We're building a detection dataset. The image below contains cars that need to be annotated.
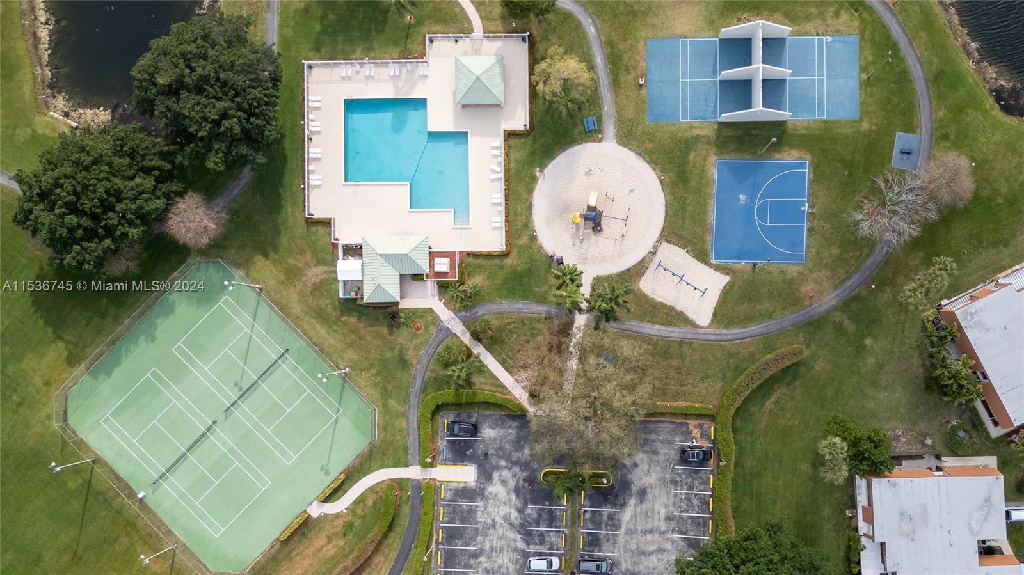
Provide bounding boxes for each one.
[445,421,478,438]
[578,559,614,575]
[1006,507,1024,525]
[680,448,713,465]
[527,557,561,575]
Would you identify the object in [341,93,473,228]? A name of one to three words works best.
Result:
swimming pool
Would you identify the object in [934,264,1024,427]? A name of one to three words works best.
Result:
house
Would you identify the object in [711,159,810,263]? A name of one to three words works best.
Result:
basketball court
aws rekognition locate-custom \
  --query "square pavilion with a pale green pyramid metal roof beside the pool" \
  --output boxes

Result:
[455,54,505,109]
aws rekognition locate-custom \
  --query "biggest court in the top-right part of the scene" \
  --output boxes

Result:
[647,34,859,122]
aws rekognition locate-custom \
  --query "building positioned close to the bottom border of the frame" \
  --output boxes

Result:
[856,470,1024,575]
